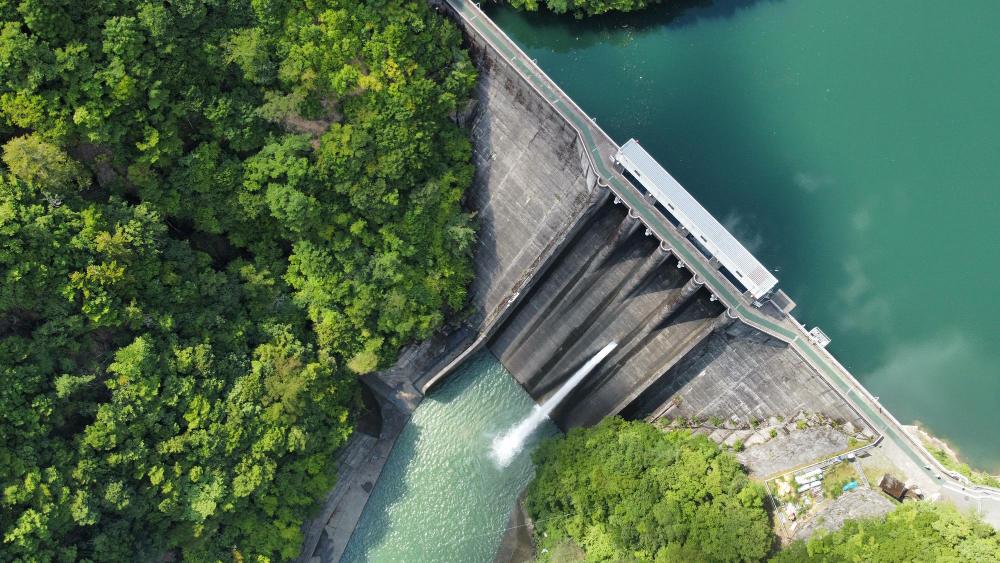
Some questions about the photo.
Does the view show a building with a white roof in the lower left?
No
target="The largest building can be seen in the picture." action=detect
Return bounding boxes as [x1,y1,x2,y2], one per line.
[614,137,781,297]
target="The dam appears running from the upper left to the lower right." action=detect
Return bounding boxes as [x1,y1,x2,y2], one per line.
[443,0,1000,492]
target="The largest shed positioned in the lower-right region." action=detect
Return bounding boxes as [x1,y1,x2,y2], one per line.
[875,473,909,503]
